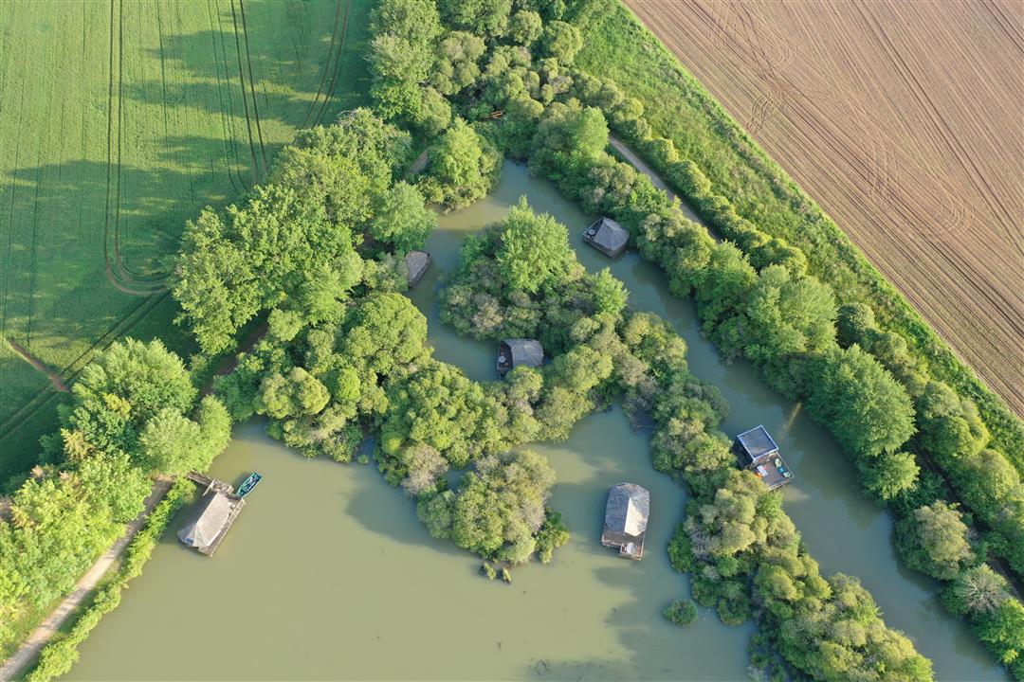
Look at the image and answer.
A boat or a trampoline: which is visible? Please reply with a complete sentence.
Of the two, only a boat appears.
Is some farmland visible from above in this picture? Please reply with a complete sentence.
Yes, some farmland is visible.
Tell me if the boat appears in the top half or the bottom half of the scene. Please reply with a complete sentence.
Seen from above, the boat lies in the bottom half of the view.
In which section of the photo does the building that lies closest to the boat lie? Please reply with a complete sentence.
You can find the building that lies closest to the boat in the bottom left area of the picture.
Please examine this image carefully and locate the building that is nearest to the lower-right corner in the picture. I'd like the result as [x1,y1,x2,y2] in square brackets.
[733,425,797,495]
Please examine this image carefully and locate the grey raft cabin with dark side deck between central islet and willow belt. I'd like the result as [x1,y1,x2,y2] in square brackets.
[494,340,546,380]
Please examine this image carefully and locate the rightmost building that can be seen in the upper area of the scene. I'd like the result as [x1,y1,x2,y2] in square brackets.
[582,219,632,262]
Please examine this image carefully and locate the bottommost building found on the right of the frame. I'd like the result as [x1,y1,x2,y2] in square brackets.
[602,484,645,562]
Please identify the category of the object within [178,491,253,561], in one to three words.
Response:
building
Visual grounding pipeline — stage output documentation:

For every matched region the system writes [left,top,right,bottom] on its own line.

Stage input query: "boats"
[233,472,262,500]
